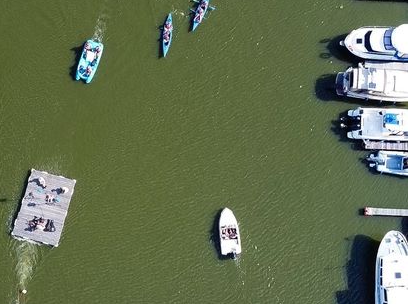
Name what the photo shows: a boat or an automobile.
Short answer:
boat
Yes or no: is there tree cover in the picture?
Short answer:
No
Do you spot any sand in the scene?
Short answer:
No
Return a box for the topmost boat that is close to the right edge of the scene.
[338,24,408,64]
